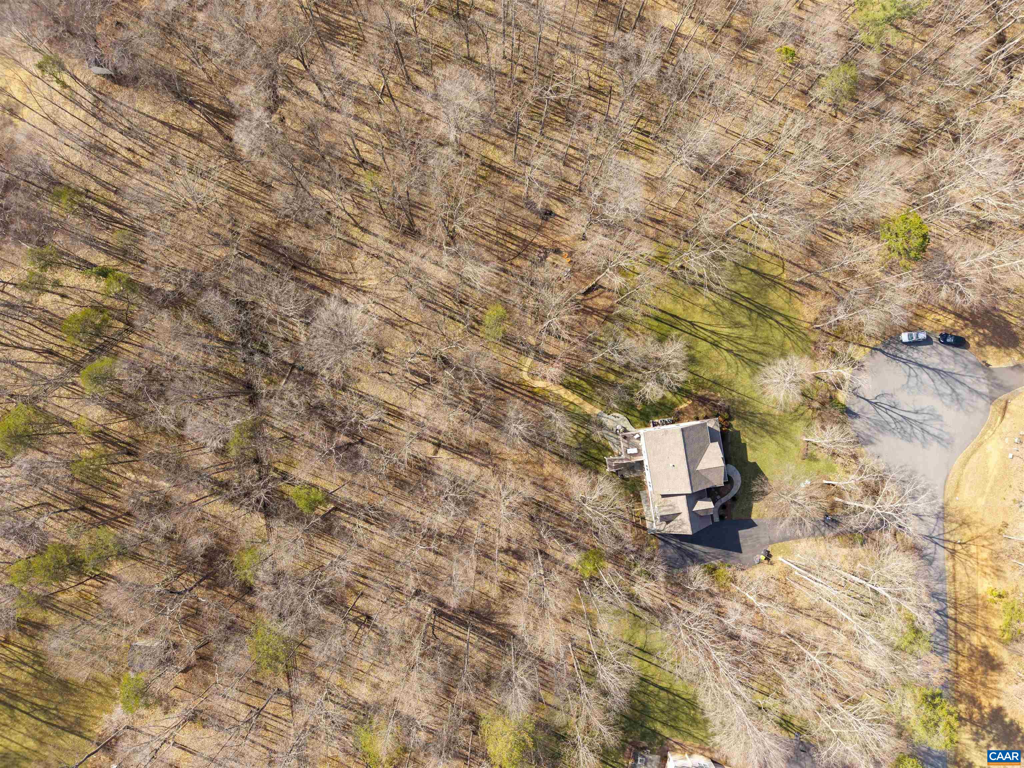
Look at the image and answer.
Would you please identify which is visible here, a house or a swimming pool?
house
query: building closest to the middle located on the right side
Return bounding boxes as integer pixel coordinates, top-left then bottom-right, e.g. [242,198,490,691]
[604,417,729,535]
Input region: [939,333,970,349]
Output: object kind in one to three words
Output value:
car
